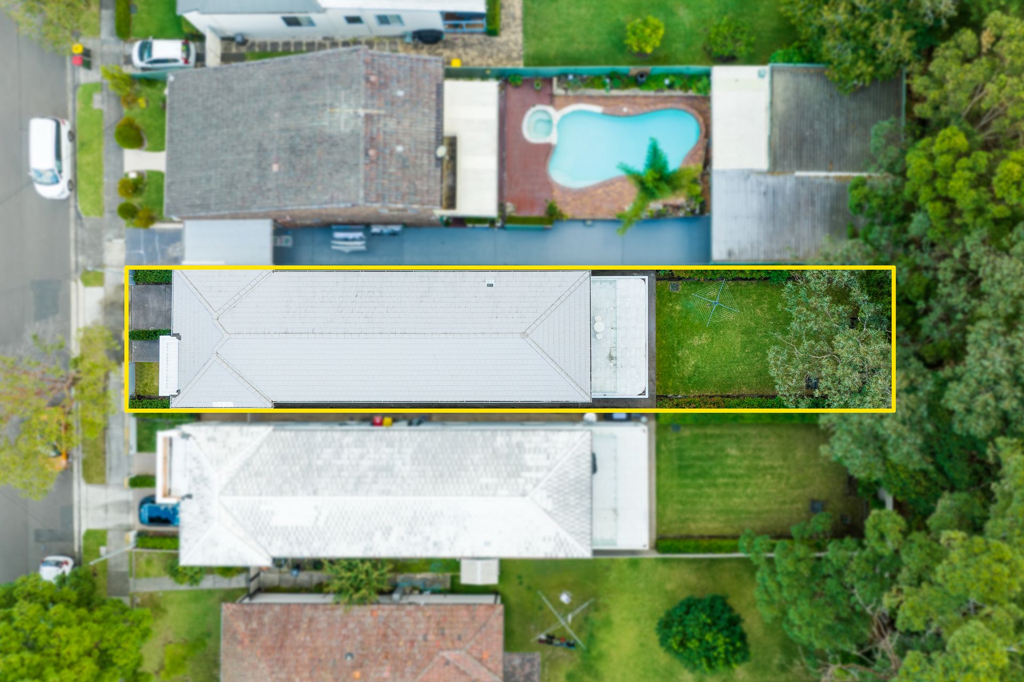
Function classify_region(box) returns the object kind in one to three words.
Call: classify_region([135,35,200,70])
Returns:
car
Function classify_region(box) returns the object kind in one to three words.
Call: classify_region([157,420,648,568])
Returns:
house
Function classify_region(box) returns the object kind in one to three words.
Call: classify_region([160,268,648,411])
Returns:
house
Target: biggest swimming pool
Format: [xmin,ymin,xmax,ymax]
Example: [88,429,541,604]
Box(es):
[547,103,705,193]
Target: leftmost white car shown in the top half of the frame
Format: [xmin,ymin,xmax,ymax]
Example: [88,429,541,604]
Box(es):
[28,121,73,200]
